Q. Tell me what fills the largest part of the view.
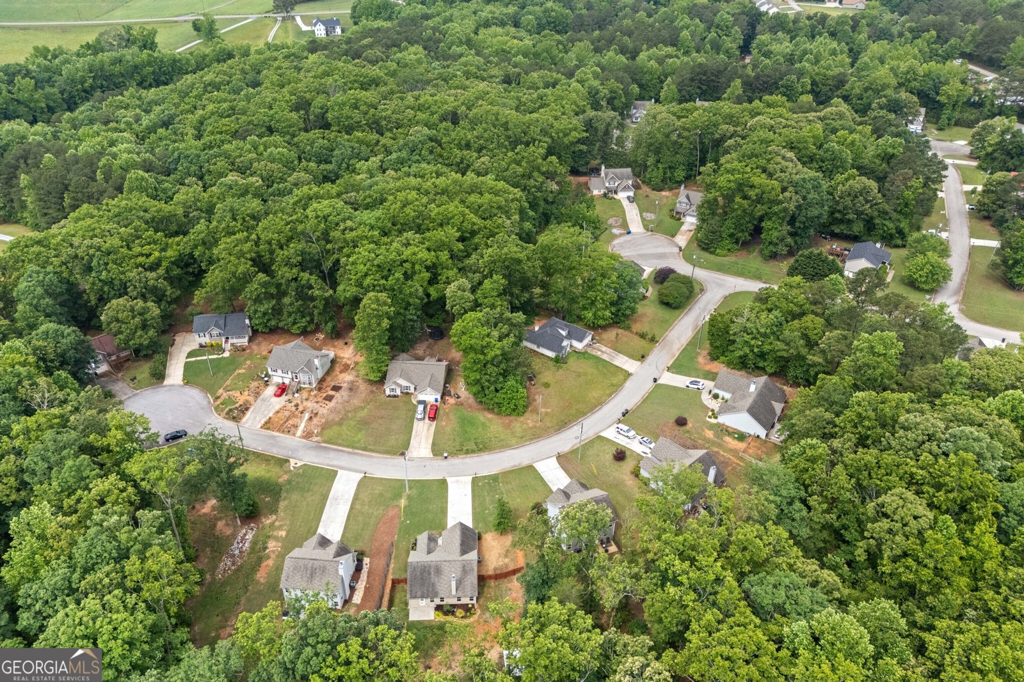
trees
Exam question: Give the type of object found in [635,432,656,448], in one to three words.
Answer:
car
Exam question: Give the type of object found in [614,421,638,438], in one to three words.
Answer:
car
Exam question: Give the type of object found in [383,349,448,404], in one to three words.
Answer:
house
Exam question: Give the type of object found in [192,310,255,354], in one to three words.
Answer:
house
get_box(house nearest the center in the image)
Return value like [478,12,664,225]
[522,315,593,358]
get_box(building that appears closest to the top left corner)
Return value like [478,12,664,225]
[312,9,345,36]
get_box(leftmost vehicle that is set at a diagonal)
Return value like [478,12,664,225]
[271,379,289,395]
